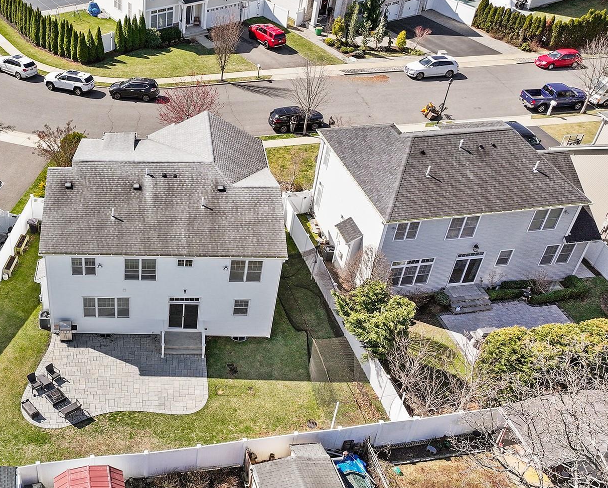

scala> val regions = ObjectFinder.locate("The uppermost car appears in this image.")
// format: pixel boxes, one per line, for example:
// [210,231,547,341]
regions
[247,22,290,49]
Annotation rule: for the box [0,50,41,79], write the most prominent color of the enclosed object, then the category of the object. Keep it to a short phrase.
white car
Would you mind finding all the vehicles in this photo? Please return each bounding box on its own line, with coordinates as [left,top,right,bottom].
[0,50,41,79]
[247,22,290,49]
[103,72,162,100]
[531,44,589,68]
[500,106,553,152]
[264,101,330,133]
[583,70,608,105]
[400,49,464,78]
[38,65,98,95]
[517,79,596,111]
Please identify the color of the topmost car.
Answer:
red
